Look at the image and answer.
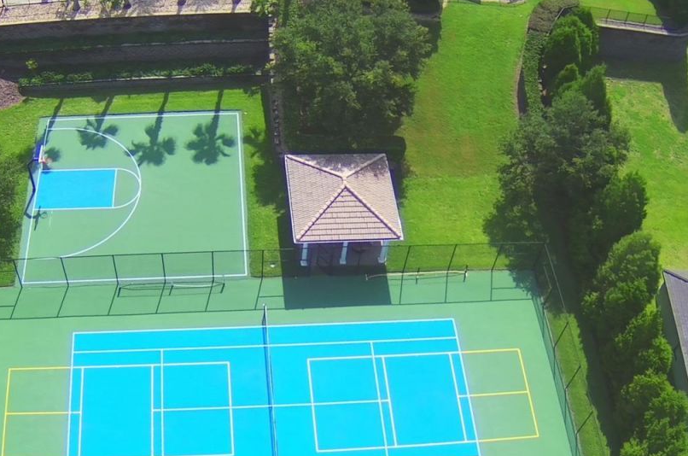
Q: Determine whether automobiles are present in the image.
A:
No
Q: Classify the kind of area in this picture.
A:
sports ground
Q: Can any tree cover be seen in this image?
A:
Yes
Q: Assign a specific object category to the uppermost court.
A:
basketball court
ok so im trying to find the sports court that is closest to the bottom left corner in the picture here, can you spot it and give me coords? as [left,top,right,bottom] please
[1,360,234,456]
